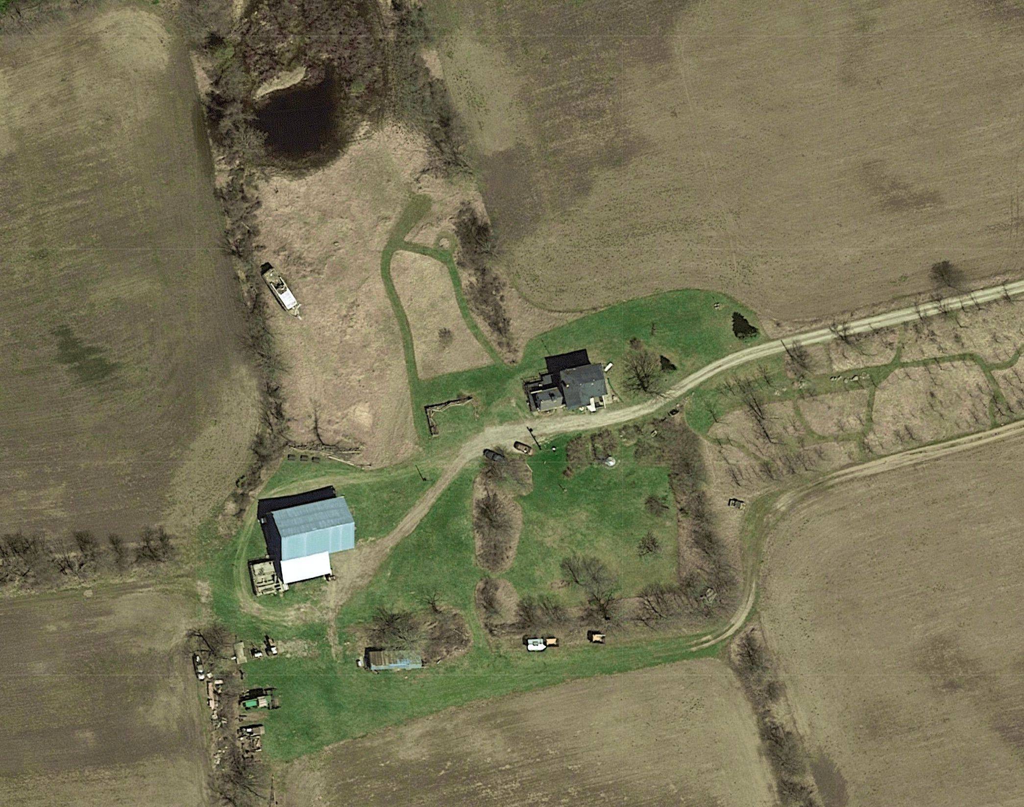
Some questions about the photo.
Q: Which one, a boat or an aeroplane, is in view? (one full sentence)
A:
Of the two, only a boat appears.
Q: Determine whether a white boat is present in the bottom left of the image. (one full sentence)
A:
No, looking in the bottom left of the image, there is no white boat.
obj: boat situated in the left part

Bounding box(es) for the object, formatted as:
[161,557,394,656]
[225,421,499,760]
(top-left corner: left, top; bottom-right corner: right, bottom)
[262,268,301,319]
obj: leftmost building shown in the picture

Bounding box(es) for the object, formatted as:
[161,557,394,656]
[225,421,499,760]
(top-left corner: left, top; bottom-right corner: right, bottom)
[267,497,352,584]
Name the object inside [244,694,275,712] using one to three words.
work vehicle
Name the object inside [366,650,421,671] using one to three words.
shed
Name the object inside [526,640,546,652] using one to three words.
vehicle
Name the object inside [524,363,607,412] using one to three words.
house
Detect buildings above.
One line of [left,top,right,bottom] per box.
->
[366,650,421,671]
[267,497,352,584]
[524,363,607,412]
